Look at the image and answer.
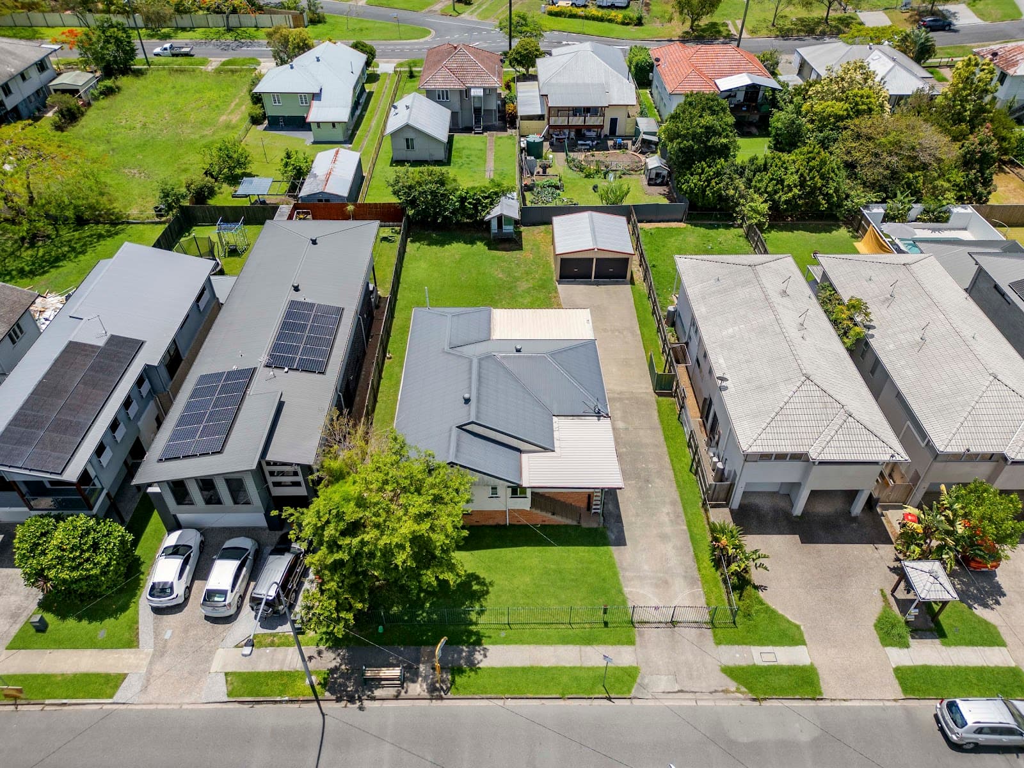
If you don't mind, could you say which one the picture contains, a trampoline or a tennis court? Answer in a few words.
trampoline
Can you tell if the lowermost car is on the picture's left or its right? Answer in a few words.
right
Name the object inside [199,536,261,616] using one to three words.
car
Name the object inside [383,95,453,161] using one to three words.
building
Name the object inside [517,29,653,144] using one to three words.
house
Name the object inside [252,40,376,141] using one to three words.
house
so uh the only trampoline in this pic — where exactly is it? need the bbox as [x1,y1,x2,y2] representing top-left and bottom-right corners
[167,227,222,262]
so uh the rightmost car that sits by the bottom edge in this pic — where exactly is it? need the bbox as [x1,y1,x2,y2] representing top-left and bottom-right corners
[933,690,1024,749]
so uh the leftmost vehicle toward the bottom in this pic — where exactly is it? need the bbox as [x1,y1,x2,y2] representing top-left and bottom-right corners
[144,527,209,606]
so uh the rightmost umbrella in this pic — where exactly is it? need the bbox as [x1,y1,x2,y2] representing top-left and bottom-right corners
[877,222,916,244]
